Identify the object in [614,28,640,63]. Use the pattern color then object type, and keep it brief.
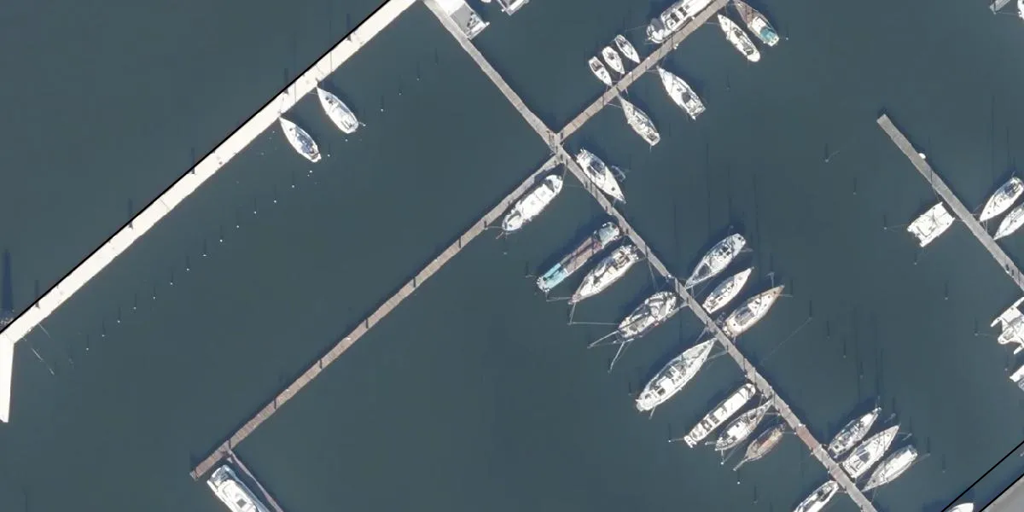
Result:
white boat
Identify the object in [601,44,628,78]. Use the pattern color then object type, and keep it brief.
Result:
white boat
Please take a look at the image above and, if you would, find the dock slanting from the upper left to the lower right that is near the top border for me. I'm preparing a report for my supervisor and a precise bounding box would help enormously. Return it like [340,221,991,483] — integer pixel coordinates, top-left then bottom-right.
[424,0,557,145]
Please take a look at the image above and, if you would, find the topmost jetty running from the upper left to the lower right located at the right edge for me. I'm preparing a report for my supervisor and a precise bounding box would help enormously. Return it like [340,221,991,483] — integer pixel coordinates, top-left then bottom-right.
[877,115,1024,290]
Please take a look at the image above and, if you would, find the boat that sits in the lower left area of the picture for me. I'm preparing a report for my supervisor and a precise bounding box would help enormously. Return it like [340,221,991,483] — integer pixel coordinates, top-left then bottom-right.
[206,464,273,512]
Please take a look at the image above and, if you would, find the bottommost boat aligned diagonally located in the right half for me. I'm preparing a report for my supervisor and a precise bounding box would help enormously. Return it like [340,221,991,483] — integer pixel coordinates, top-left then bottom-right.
[794,479,846,512]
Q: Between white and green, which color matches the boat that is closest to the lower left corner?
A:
white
